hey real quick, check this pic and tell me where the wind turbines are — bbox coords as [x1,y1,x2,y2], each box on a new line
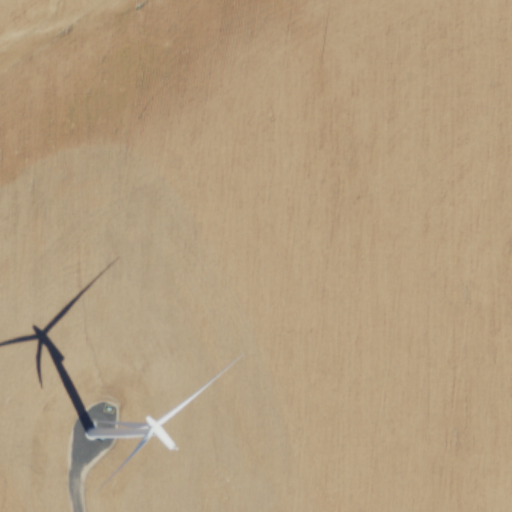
[86,354,246,486]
